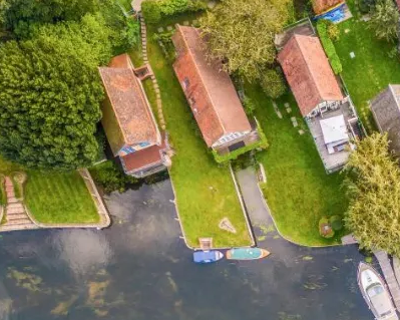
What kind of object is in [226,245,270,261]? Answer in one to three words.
boat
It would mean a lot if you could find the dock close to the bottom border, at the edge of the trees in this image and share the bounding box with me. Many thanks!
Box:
[374,247,400,311]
